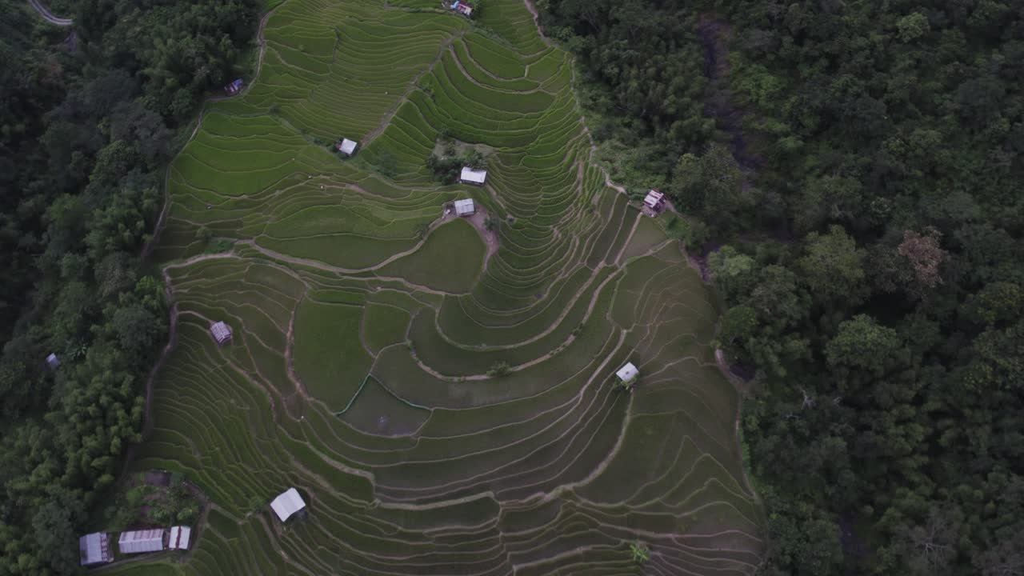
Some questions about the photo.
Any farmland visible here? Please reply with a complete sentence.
Yes, there's farmland in this view.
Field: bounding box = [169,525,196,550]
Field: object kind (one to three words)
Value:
shed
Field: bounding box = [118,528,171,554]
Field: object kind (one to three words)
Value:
shed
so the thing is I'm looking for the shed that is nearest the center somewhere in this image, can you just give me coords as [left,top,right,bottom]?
[454,199,475,219]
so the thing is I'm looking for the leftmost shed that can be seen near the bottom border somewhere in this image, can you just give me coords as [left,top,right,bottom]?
[80,528,113,569]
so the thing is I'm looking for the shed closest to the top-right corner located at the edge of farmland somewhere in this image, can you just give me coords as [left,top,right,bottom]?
[641,189,669,213]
